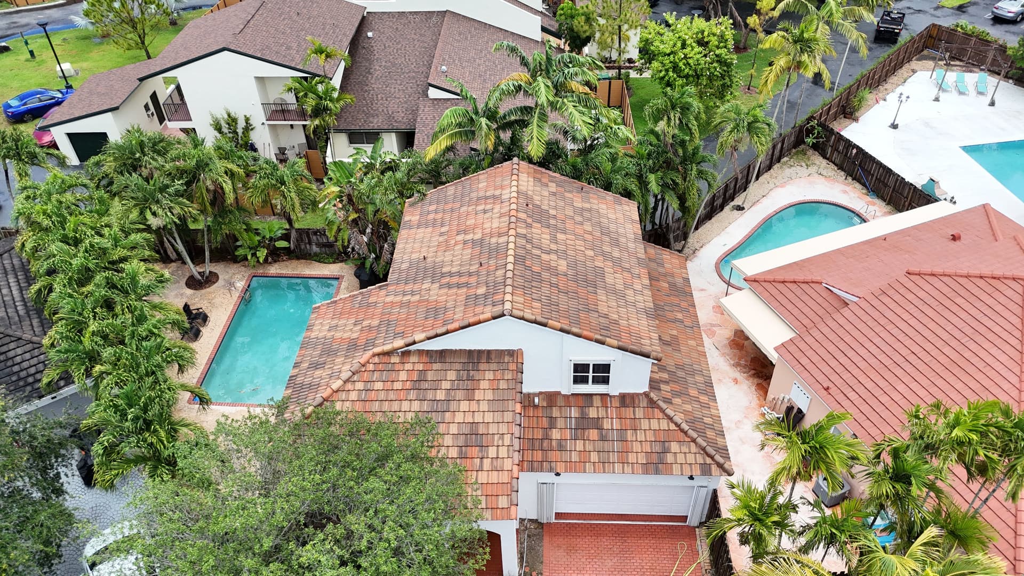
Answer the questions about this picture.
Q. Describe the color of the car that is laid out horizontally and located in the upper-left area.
blue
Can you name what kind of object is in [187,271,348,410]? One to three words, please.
swimming pool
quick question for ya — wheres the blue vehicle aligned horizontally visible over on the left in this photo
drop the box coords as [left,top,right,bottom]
[0,87,73,121]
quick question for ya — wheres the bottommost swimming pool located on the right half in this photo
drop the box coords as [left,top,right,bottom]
[715,198,870,292]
